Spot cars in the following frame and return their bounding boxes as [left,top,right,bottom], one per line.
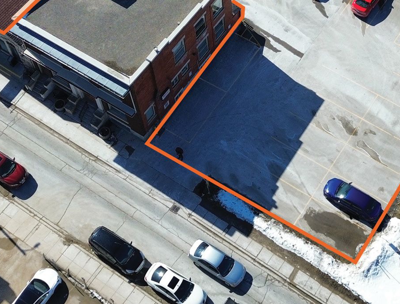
[86,229,148,276]
[7,270,65,304]
[0,154,34,193]
[143,265,210,304]
[185,241,250,289]
[318,184,386,231]
[353,0,380,18]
